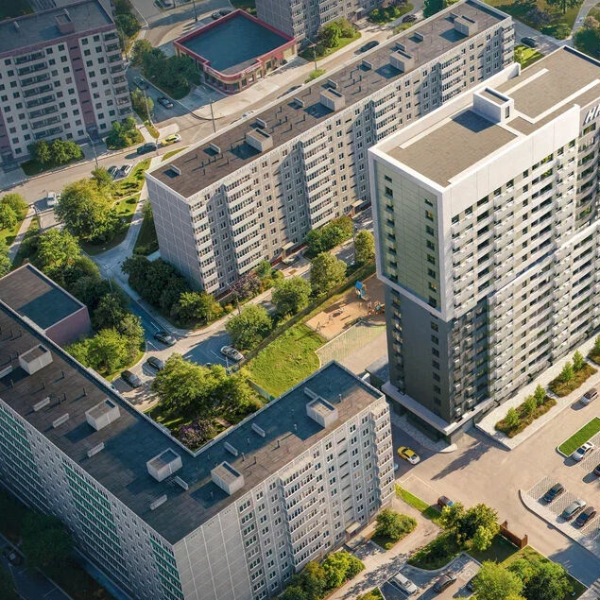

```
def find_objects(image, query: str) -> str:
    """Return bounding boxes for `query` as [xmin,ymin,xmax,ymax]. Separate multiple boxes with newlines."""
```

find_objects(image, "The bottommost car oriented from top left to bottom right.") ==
[391,573,418,596]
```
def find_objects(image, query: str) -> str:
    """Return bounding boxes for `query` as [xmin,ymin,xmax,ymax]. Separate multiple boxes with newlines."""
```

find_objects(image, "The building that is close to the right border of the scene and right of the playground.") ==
[363,40,600,445]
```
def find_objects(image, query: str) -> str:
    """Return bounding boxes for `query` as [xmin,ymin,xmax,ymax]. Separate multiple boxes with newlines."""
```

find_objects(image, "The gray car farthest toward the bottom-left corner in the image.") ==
[120,371,142,388]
